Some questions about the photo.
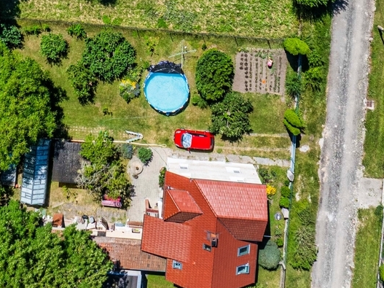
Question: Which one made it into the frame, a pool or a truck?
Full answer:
Of the two, only a pool appears.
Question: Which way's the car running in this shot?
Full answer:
In this picture, the car is oriented from left to right.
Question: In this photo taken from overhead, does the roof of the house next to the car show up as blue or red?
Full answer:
The color of the roof of the house next to the car is red.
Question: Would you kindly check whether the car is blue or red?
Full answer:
From above, the car appears red.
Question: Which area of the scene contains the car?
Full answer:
The car sits in the center section of the image.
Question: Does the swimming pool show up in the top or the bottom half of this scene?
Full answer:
The top half of the photo is where the swimming pool is.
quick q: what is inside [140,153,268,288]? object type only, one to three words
house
